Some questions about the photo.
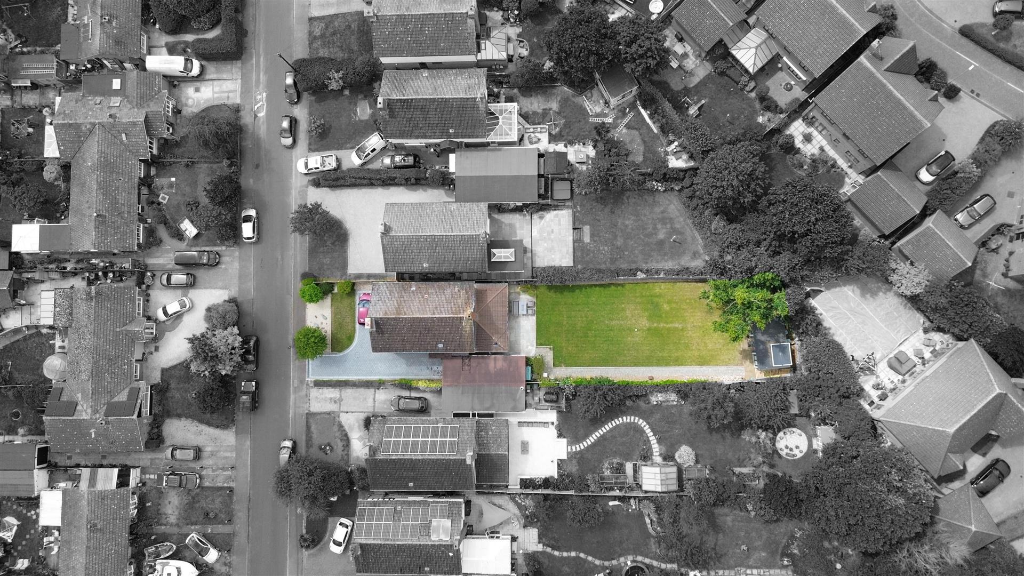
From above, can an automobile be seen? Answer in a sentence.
Yes, there's an automobile down there.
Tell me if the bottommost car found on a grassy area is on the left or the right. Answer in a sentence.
The bottommost car found on a grassy area sits on the left side.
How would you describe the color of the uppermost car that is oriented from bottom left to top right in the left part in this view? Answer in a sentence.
In this view, the uppermost car that is oriented from bottom left to top right in the left part is white.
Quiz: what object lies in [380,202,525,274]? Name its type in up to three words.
house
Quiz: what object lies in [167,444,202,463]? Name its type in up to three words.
car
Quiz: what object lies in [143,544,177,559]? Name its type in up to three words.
boat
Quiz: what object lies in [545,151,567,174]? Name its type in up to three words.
shed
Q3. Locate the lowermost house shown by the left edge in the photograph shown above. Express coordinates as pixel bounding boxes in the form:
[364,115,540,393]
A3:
[39,484,147,576]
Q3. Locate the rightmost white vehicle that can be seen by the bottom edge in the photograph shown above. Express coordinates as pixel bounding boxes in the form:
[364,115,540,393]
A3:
[329,516,353,554]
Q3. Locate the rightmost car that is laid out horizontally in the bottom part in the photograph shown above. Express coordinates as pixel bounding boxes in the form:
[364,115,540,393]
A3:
[391,395,428,413]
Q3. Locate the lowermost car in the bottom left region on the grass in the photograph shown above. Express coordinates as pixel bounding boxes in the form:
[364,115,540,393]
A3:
[187,530,220,563]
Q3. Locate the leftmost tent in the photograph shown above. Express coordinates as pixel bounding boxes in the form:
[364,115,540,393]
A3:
[39,352,68,381]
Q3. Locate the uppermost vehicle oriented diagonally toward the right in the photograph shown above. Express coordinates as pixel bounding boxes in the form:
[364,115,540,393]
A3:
[917,150,955,183]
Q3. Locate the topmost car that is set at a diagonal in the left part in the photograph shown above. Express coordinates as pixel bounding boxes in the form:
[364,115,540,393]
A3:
[351,132,387,166]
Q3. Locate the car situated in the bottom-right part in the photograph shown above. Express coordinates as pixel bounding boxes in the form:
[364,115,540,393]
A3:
[971,459,1008,495]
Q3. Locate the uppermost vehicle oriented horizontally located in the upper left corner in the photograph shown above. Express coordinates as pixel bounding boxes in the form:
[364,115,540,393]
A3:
[143,55,205,79]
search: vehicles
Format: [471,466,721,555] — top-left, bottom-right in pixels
[298,154,340,173]
[382,151,421,170]
[278,434,297,469]
[279,114,298,148]
[356,292,371,326]
[282,72,301,105]
[240,209,259,243]
[971,459,1008,495]
[953,194,997,226]
[161,271,197,289]
[157,295,194,322]
[167,444,202,463]
[173,249,222,268]
[988,0,1024,17]
[917,150,955,183]
[391,395,428,413]
[143,55,205,79]
[187,530,220,563]
[237,380,258,413]
[351,132,387,166]
[329,516,353,554]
